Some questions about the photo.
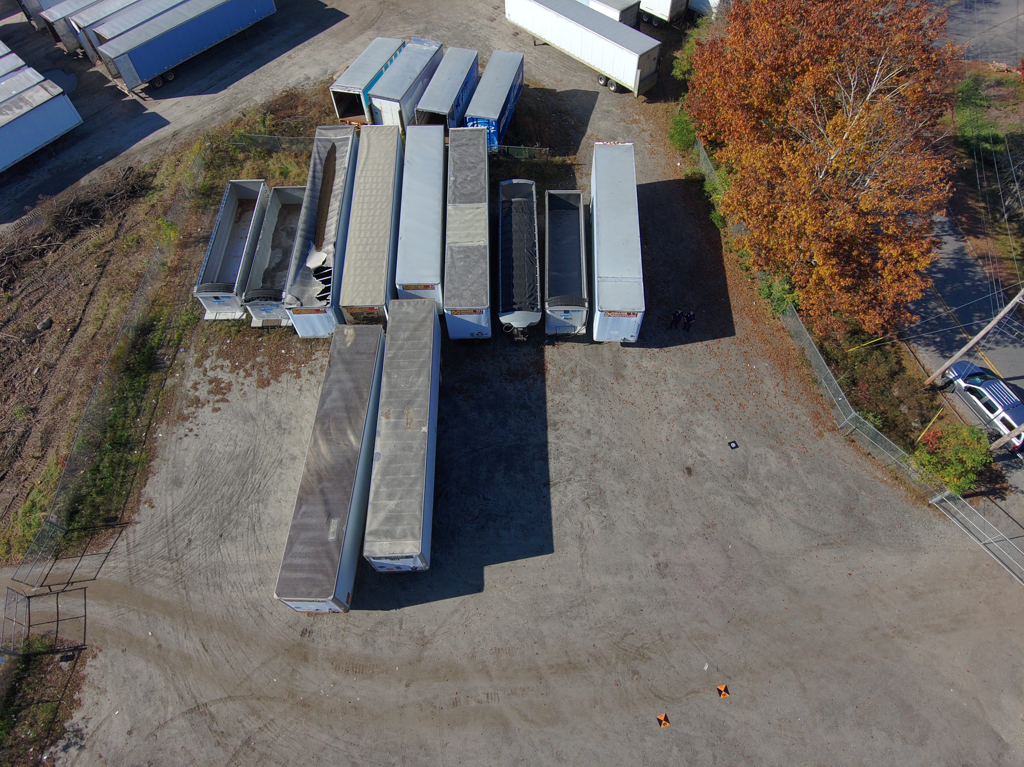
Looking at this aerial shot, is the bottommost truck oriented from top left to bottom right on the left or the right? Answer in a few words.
right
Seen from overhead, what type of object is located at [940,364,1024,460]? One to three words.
truck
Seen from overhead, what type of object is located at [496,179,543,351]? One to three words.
trailer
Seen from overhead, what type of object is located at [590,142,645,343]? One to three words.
trailer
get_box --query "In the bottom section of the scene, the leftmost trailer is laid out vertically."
[276,325,386,614]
